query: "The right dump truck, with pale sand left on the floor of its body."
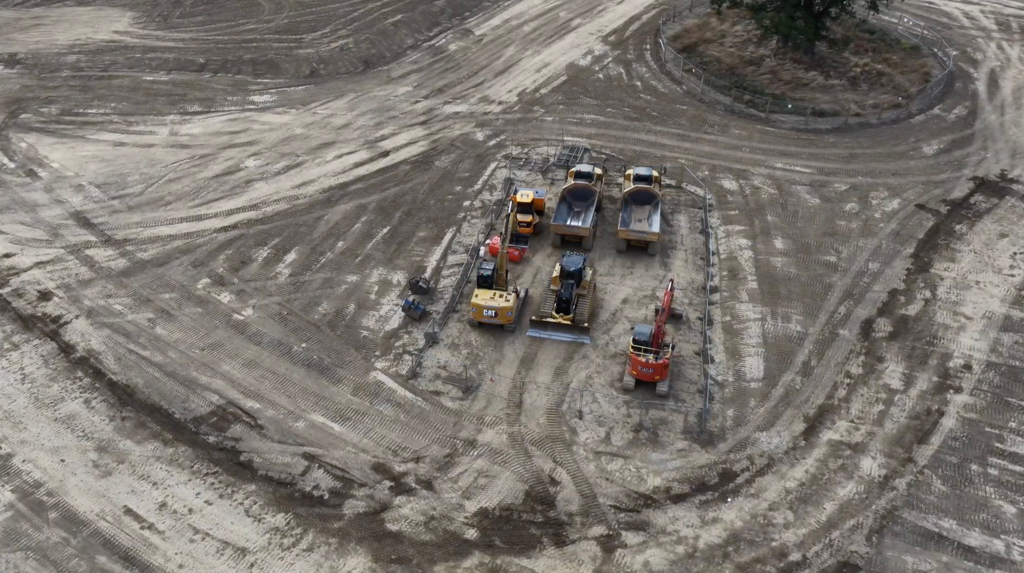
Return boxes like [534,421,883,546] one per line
[618,164,667,253]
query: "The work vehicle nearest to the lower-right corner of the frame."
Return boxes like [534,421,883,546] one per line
[623,270,684,394]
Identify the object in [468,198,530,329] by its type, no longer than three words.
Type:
work vehicle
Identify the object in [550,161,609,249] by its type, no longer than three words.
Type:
truck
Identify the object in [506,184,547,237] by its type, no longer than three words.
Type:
truck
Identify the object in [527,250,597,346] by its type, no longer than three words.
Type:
work vehicle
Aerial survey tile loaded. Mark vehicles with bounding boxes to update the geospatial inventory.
[527,250,597,346]
[506,184,547,237]
[550,161,609,249]
[618,164,667,253]
[468,198,530,329]
[623,270,684,394]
